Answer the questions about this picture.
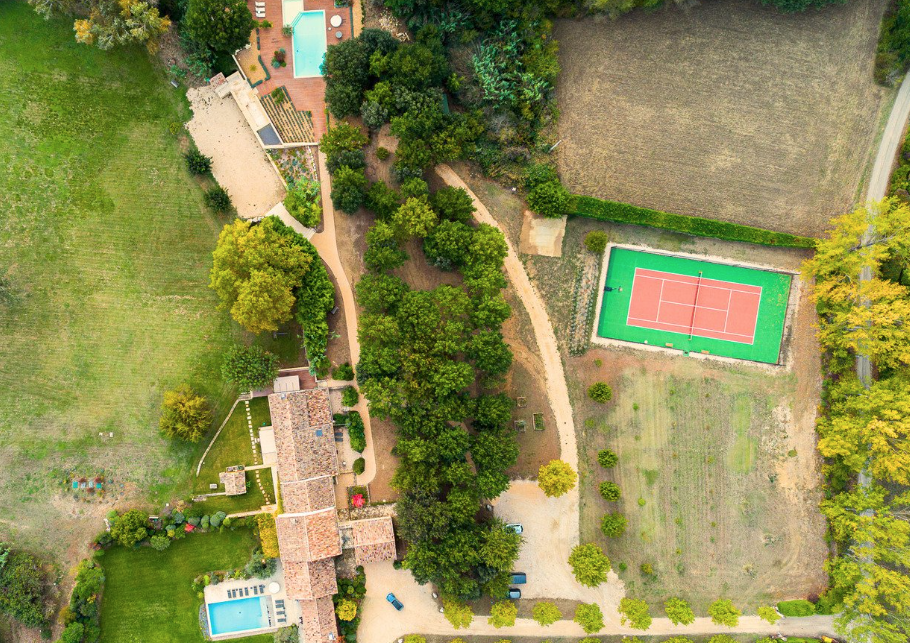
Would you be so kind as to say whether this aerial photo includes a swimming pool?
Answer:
Yes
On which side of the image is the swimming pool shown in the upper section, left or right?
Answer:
left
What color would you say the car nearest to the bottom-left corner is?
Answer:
blue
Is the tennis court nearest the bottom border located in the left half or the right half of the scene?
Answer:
right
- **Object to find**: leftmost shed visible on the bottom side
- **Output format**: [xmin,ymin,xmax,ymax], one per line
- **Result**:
[219,471,250,496]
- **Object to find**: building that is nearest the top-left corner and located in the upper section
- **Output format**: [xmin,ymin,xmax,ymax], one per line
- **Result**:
[211,71,285,152]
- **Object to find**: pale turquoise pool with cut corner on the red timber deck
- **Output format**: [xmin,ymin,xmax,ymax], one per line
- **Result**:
[291,9,327,80]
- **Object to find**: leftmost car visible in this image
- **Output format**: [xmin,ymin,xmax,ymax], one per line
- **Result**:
[385,591,404,611]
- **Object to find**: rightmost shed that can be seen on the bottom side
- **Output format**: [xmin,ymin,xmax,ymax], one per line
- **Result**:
[351,514,396,565]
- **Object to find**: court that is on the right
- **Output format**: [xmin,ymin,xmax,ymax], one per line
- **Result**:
[591,242,795,364]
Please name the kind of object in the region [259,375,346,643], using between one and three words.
house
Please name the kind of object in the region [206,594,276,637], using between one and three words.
swimming pool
